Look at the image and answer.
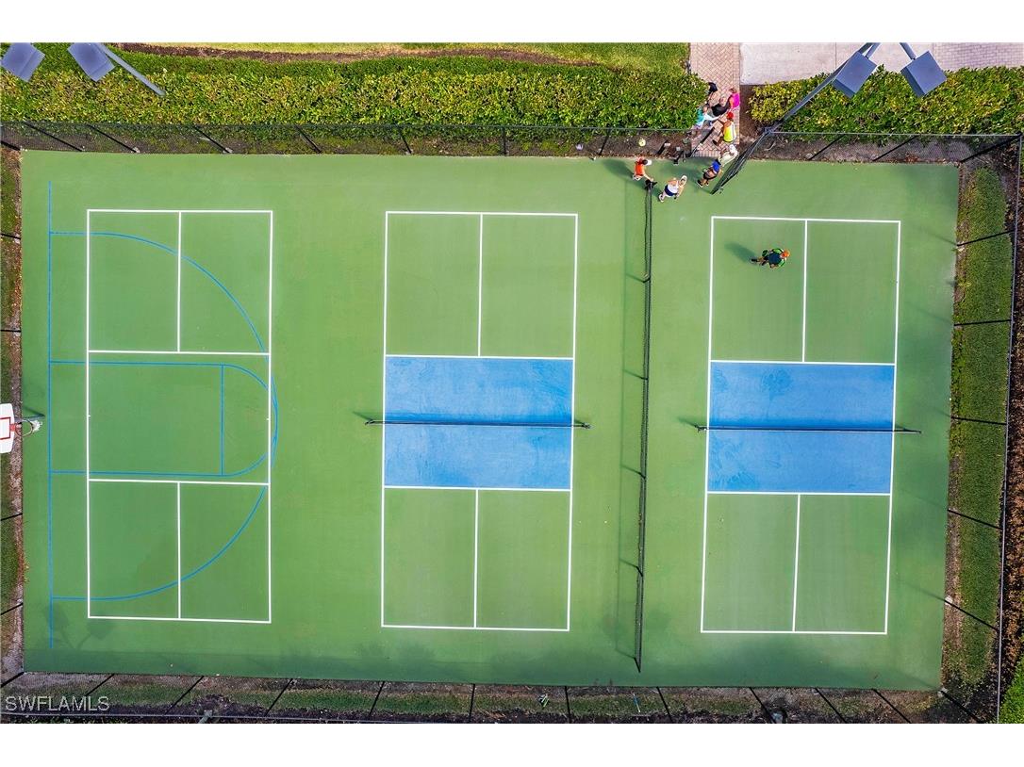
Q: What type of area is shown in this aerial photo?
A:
sports ground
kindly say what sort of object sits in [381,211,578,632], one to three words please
sports court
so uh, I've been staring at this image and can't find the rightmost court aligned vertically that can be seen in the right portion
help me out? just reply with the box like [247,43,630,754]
[700,216,901,636]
